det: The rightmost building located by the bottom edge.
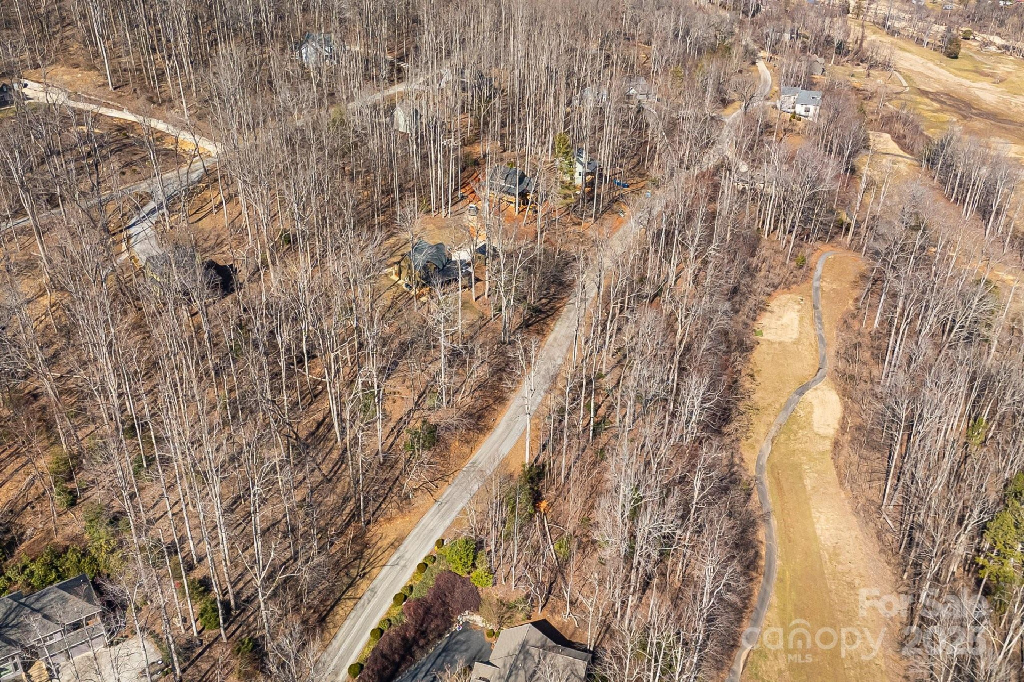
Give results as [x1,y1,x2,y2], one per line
[466,622,593,682]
